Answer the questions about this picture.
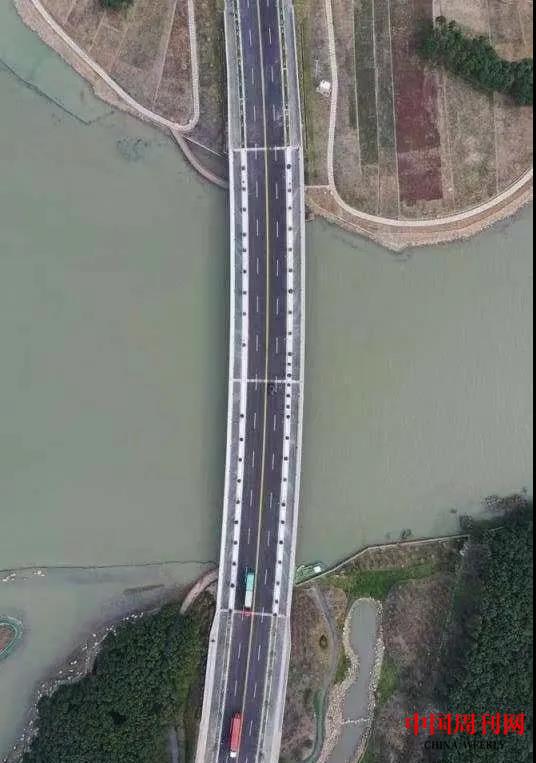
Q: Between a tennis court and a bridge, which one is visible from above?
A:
bridge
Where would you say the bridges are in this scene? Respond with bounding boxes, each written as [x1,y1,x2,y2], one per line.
[216,146,305,615]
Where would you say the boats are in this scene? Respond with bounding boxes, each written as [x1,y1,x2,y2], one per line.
[294,562,325,581]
